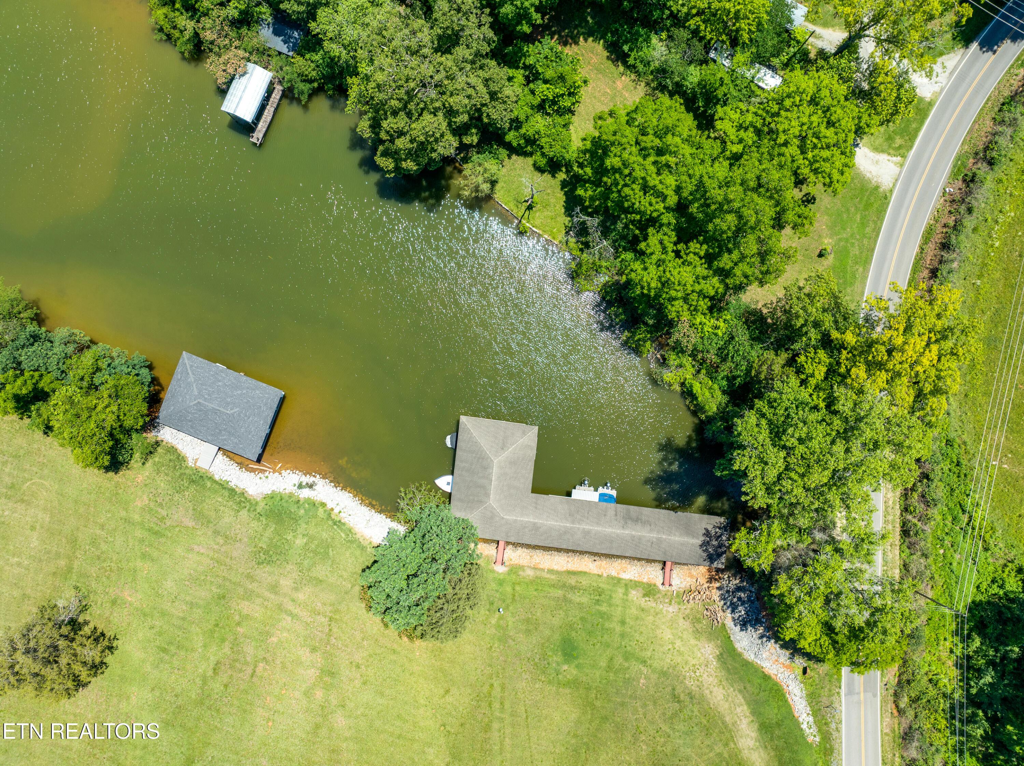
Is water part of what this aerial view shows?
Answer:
Yes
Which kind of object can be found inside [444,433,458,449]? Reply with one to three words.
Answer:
boat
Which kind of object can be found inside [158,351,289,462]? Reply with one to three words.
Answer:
building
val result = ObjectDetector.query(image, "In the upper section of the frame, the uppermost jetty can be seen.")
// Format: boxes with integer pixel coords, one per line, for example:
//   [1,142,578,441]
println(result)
[249,86,285,146]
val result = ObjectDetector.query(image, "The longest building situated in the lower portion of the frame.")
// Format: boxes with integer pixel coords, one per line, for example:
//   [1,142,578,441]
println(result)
[450,415,730,568]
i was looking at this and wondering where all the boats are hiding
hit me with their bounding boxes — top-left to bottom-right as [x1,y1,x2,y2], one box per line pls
[444,433,458,449]
[575,478,593,492]
[434,476,454,491]
[598,483,616,504]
